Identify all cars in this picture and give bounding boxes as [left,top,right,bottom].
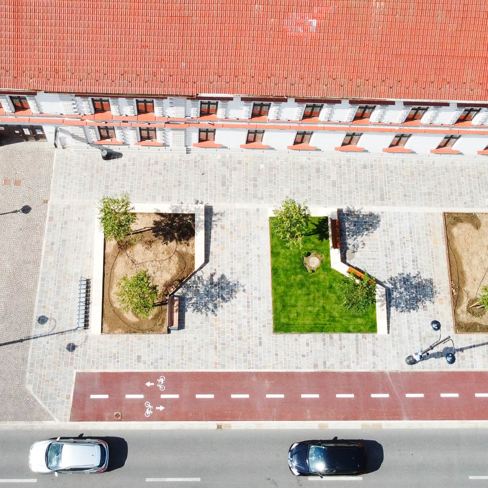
[28,434,108,479]
[285,437,366,480]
